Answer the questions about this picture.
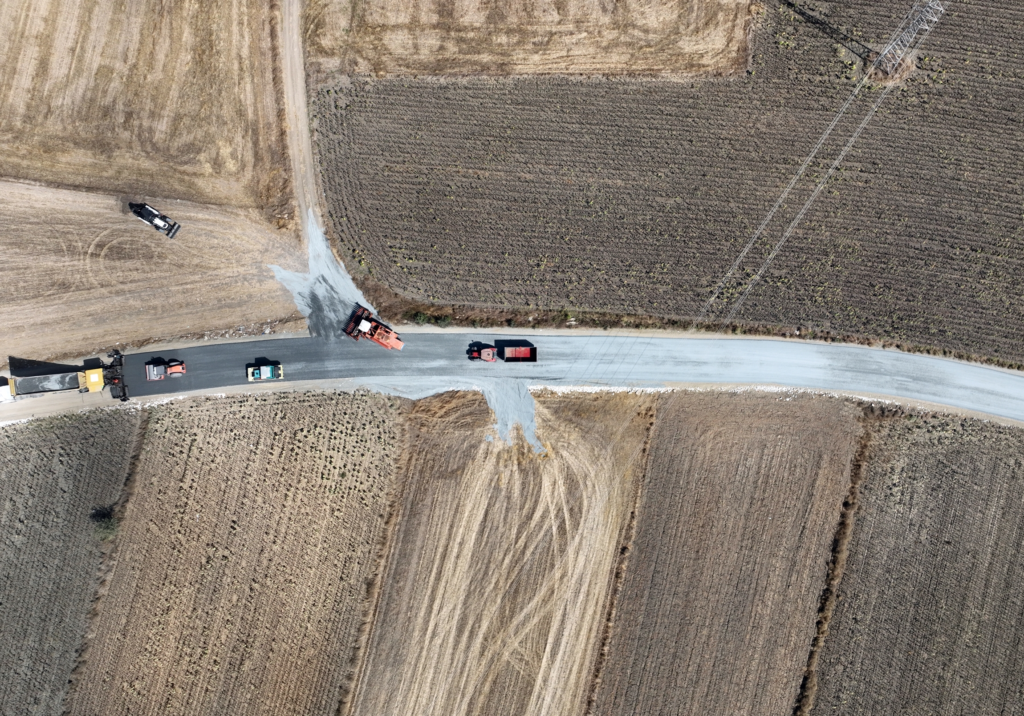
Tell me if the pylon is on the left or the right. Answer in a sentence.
The pylon sits on the right side.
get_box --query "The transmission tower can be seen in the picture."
[874,0,942,74]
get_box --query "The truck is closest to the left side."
[0,372,89,404]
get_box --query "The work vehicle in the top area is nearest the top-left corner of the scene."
[131,204,183,238]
